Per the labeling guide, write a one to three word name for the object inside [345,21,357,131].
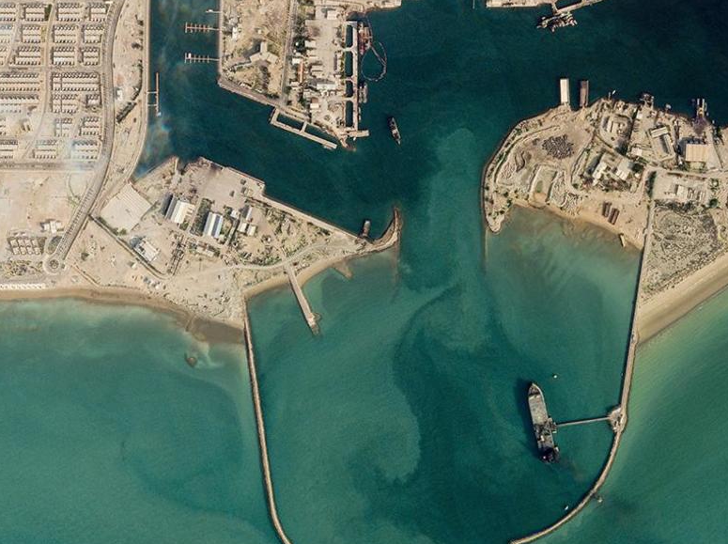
pier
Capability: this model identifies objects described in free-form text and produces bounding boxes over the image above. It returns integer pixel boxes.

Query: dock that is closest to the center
[284,264,318,334]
